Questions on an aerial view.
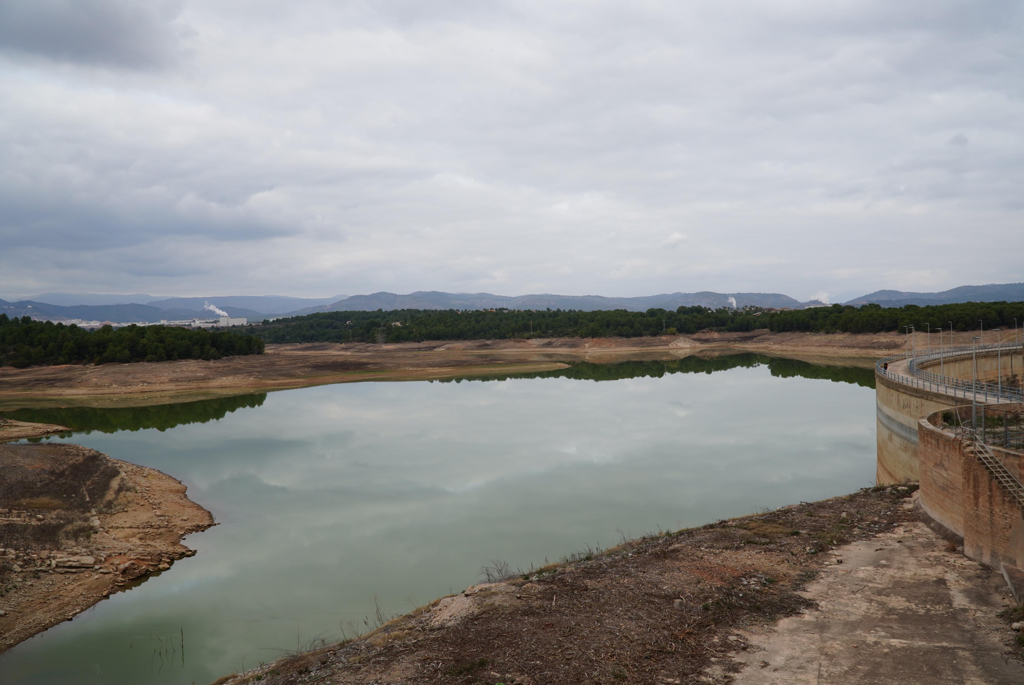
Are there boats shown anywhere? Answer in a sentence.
No, there isn't any boat down there.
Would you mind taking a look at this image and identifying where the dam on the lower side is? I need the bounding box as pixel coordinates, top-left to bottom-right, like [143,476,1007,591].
[874,346,1024,482]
